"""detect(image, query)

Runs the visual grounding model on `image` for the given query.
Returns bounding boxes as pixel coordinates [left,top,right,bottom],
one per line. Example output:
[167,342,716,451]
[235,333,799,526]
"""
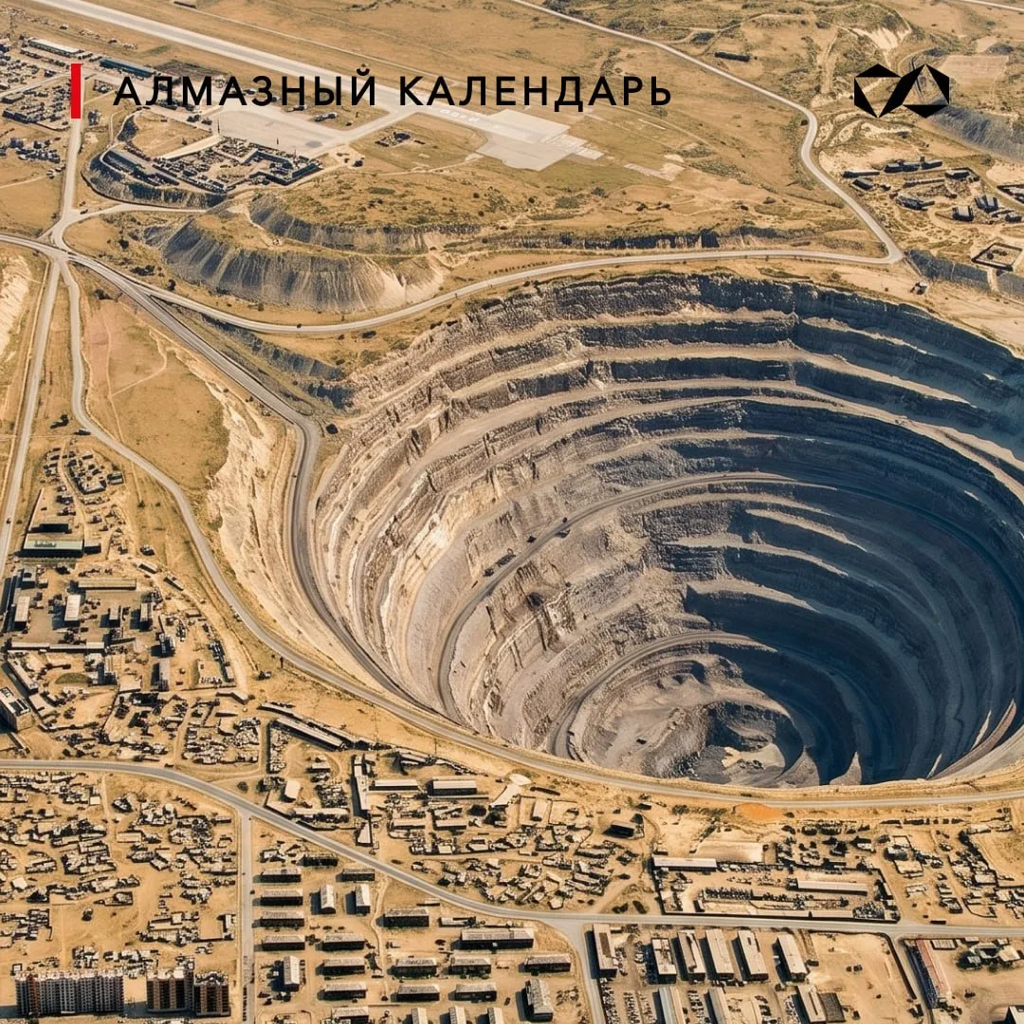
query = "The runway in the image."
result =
[55,0,563,139]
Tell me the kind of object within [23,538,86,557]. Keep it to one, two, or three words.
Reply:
building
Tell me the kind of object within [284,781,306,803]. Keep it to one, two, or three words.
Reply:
house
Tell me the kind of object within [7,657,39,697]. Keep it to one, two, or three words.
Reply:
barn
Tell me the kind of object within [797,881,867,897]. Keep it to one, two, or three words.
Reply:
shed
